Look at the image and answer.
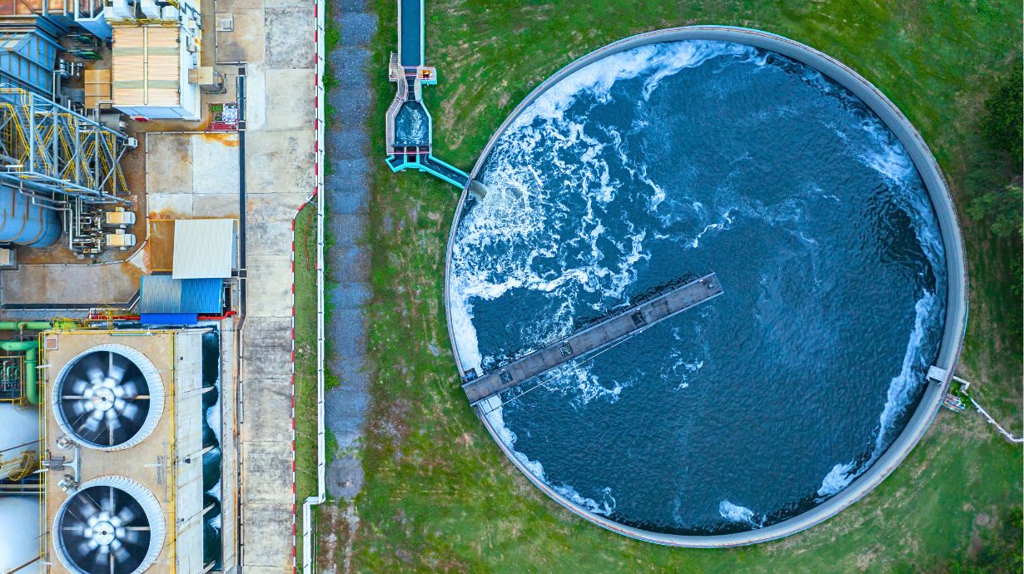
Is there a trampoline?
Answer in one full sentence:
No, I find no trampoline anywhere in the image.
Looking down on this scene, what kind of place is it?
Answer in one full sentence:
The area seen from above is an industrial area.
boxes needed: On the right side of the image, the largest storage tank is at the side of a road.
[444,25,968,549]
